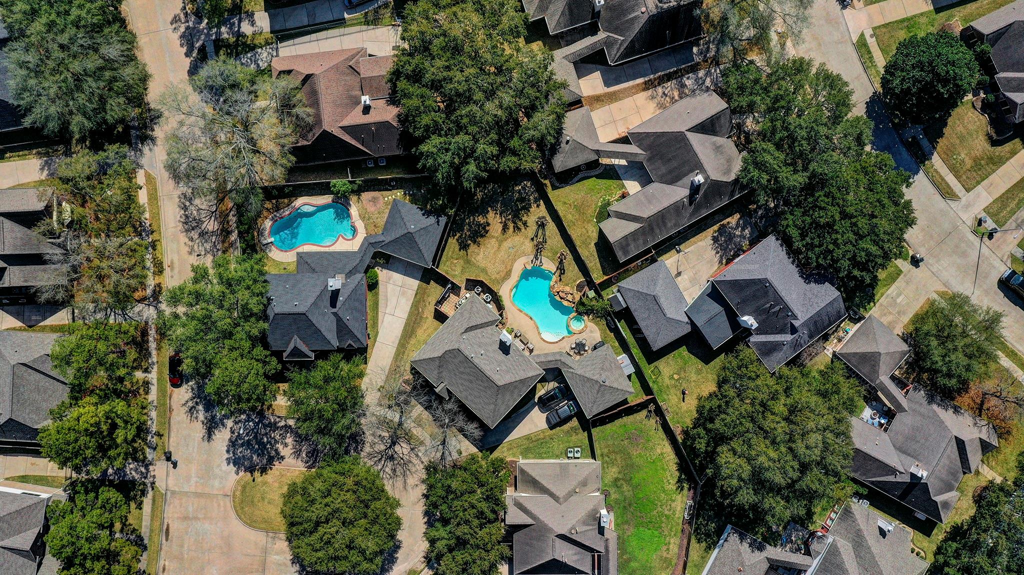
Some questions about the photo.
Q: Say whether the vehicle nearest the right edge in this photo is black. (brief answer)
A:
Yes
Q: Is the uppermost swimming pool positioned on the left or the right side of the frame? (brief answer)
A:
left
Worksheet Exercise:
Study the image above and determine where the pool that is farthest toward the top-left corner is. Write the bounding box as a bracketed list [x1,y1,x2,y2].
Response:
[268,200,360,253]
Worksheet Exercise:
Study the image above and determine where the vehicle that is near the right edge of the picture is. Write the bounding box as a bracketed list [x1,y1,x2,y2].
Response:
[1004,270,1024,292]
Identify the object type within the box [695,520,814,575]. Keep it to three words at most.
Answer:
house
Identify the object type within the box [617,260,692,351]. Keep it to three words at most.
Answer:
building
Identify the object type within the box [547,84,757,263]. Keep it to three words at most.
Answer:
house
